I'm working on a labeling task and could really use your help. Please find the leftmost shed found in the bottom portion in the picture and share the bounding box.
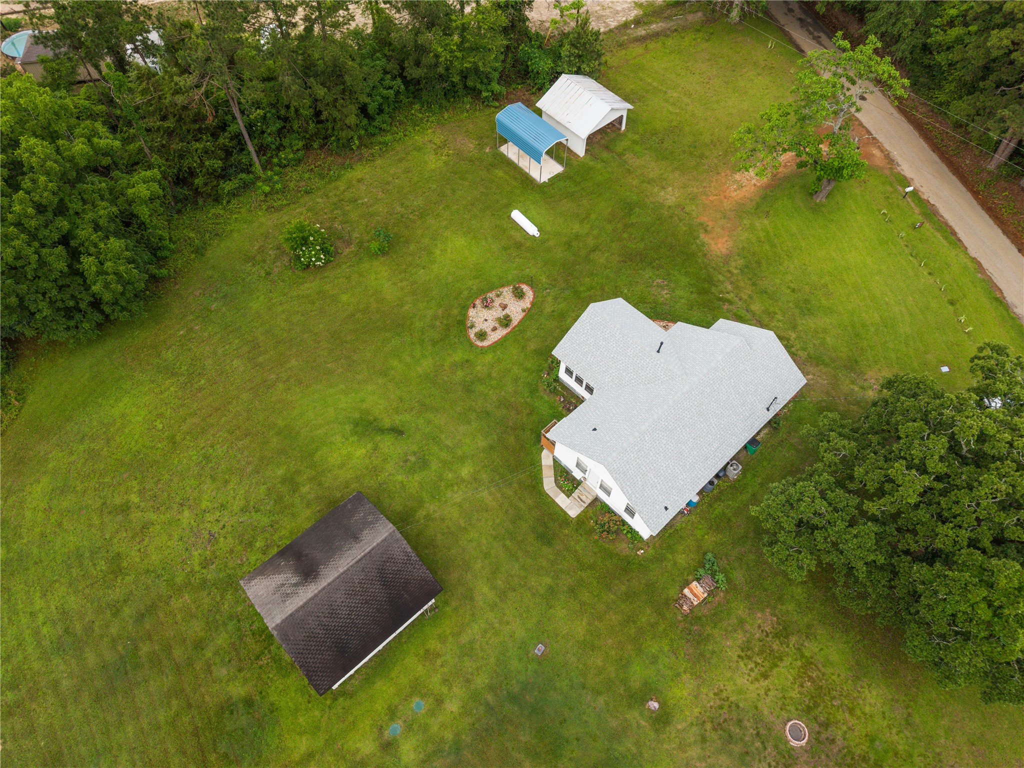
[240,492,443,695]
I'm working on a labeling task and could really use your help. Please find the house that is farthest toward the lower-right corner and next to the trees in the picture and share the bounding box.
[544,297,808,542]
